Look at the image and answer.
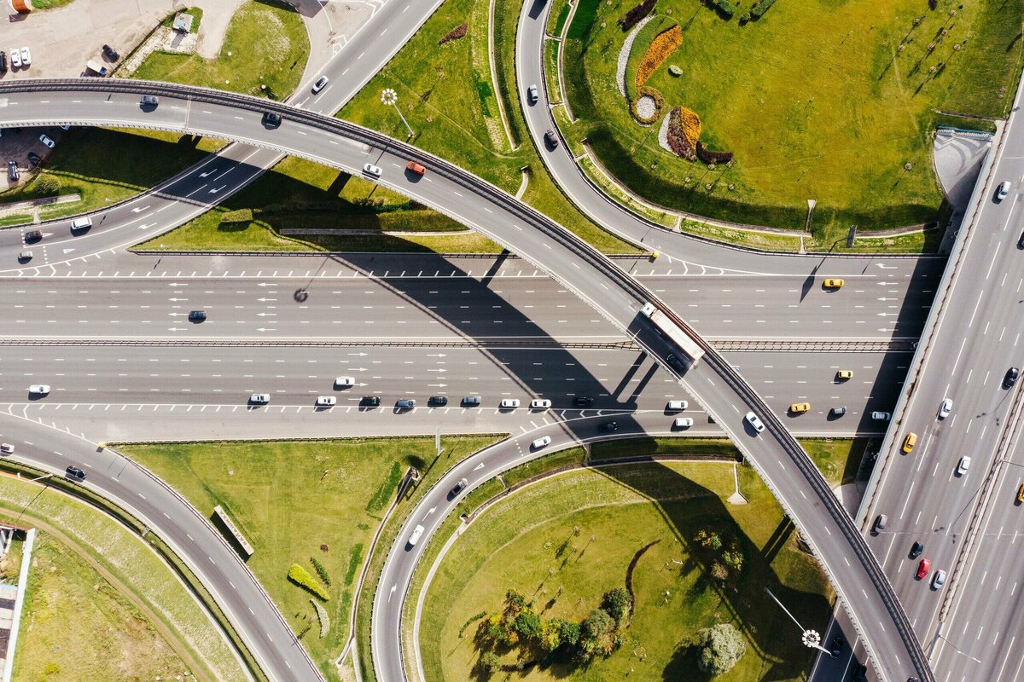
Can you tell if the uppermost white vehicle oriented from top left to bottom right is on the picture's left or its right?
left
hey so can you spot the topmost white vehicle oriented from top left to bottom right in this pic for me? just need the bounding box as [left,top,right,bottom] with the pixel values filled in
[83,57,111,77]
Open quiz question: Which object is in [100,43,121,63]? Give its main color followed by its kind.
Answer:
black car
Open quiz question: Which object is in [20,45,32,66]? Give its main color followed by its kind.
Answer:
white vehicle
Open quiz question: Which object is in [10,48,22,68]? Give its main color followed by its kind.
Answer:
white vehicle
